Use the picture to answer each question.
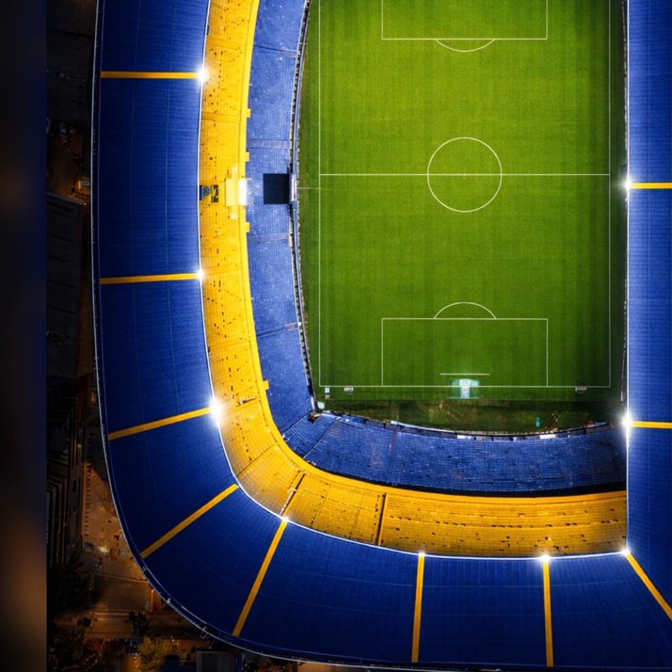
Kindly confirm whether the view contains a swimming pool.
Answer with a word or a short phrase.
No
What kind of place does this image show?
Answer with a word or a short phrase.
sports ground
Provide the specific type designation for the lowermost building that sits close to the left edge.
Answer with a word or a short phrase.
residential house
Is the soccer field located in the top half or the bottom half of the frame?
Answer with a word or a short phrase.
top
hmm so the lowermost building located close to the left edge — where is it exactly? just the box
[29,392,90,573]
